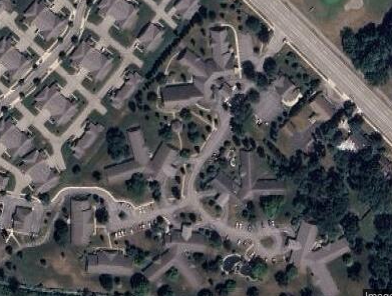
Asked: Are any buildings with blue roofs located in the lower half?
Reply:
No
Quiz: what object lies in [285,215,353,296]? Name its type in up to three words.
building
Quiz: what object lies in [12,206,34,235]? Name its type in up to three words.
building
